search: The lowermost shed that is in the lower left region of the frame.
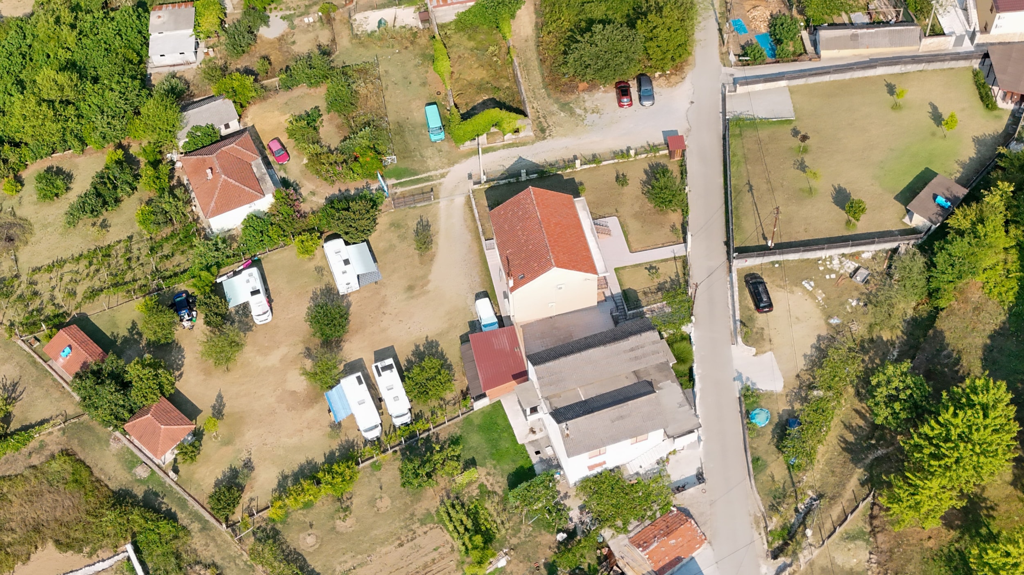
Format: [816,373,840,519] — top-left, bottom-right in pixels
[124,395,195,463]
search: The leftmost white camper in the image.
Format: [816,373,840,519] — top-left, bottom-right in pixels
[218,268,277,334]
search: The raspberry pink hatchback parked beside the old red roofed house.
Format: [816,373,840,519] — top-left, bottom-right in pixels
[267,137,291,164]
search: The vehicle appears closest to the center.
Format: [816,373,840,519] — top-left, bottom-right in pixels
[474,289,499,331]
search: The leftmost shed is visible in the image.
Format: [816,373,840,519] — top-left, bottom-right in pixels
[43,324,105,386]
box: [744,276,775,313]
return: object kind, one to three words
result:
car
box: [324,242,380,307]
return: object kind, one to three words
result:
camper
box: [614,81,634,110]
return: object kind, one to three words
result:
car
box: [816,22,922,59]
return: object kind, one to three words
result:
shed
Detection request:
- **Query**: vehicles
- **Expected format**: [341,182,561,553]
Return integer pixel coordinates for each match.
[167,292,197,325]
[424,103,446,142]
[614,81,634,110]
[474,289,499,331]
[636,76,656,108]
[744,276,775,313]
[324,242,380,307]
[218,268,277,334]
[326,373,384,442]
[372,358,414,427]
[267,137,291,164]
